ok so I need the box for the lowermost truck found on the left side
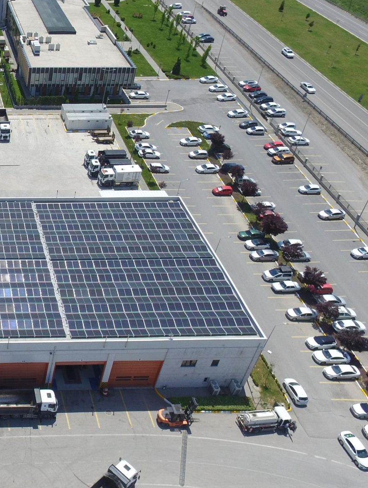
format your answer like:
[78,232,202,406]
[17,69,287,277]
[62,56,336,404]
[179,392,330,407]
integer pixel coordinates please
[99,451,142,488]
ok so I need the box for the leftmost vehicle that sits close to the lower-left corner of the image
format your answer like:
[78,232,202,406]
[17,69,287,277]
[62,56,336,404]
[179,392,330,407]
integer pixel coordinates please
[0,392,63,426]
